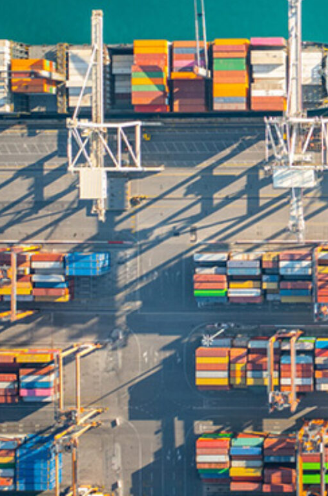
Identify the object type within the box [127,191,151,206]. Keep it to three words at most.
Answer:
work vehicle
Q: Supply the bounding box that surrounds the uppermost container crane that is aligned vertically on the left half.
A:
[70,8,170,219]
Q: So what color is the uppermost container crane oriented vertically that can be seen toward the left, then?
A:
white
